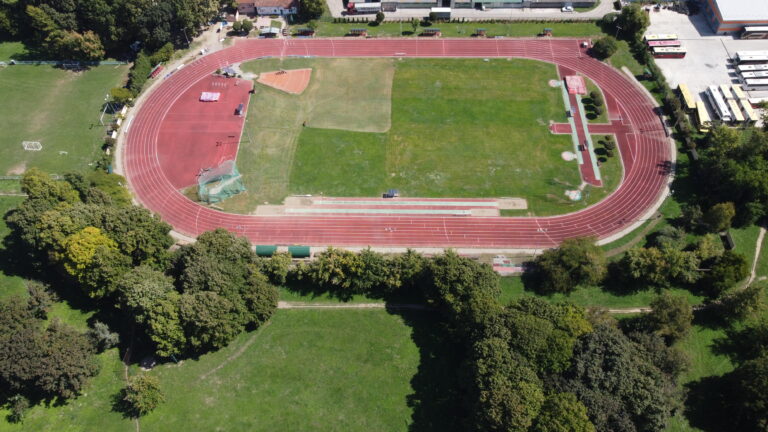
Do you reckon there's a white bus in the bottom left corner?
No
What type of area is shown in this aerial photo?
sports ground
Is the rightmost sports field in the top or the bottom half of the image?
top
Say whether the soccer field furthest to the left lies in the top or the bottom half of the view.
top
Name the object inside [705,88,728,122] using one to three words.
bus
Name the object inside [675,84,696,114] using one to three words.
bus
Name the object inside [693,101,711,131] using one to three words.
vehicle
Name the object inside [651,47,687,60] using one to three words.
vehicle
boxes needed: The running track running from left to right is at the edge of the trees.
[123,39,671,248]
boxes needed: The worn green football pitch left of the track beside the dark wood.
[0,64,127,179]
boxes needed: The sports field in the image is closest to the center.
[181,57,622,215]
